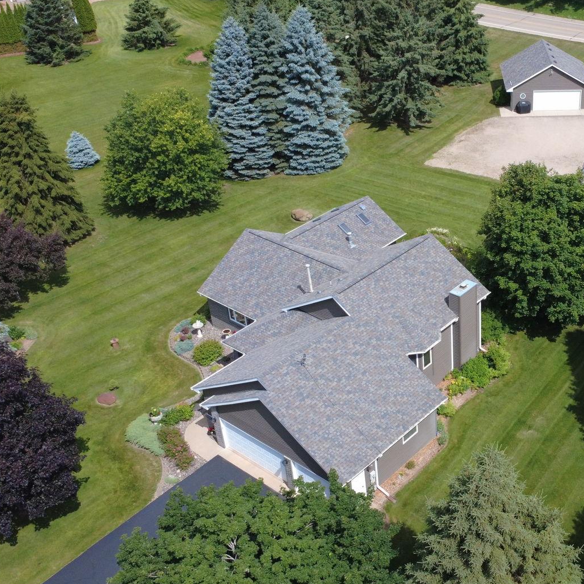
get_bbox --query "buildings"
[500,40,584,112]
[190,196,492,514]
